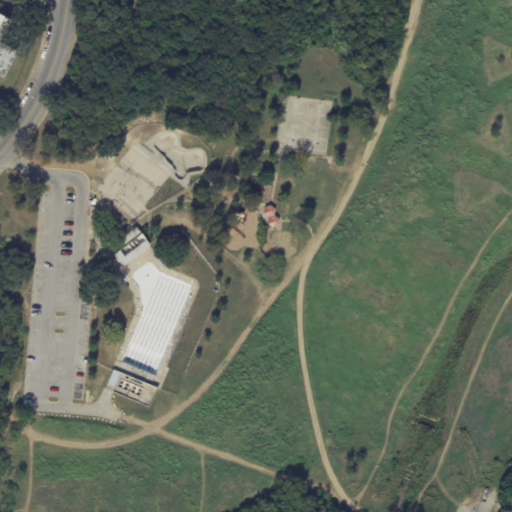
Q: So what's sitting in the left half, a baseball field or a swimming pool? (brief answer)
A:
swimming pool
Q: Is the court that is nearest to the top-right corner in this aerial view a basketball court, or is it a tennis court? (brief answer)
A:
basketball court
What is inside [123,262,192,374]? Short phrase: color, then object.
white swimming pool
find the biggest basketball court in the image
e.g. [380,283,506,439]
[278,96,332,156]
